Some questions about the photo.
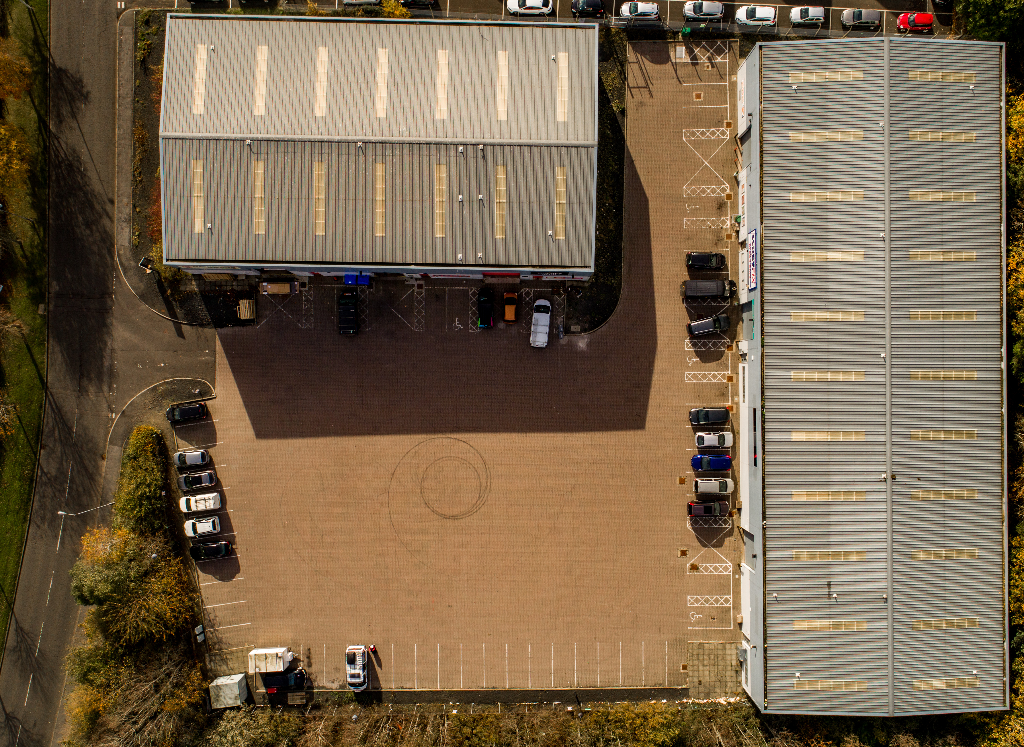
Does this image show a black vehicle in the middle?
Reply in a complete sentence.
Yes, a black vehicle can be seen in the middle.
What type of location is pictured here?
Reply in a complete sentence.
The area seen from above is an industrial area.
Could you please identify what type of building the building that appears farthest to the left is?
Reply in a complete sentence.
The building that appears farthest to the left in the image is a warehouse.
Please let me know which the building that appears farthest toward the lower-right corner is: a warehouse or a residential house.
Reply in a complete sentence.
From above, the building that appears farthest toward the lower-right corner can be identified as a warehouse.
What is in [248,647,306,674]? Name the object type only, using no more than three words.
trailer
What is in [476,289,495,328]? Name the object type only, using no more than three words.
vehicle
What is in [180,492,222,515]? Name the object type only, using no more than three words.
truck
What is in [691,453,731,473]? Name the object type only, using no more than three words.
car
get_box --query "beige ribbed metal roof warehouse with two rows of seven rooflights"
[160,15,598,292]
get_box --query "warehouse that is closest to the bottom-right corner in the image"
[737,38,1012,716]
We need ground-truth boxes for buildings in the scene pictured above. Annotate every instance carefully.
[737,38,1012,716]
[160,15,598,292]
